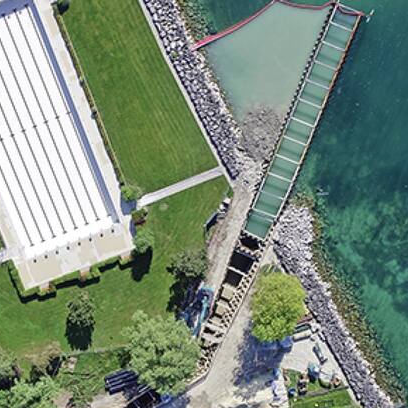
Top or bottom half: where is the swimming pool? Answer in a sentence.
The swimming pool sits in the top half of the picture.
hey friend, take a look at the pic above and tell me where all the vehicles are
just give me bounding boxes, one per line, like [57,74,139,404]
[313,344,328,365]
[188,292,213,344]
